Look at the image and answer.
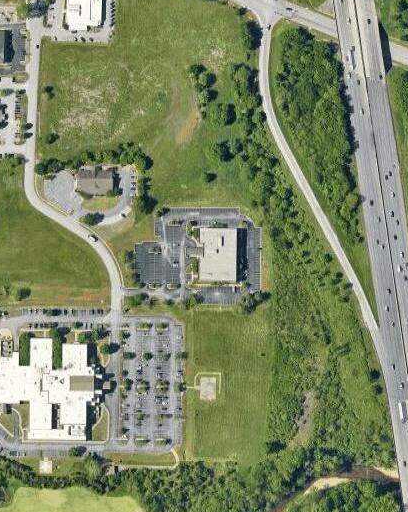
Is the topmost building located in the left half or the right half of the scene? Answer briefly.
left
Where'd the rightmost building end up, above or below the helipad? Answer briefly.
above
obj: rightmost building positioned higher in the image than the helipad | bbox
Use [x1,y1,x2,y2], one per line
[199,228,238,281]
